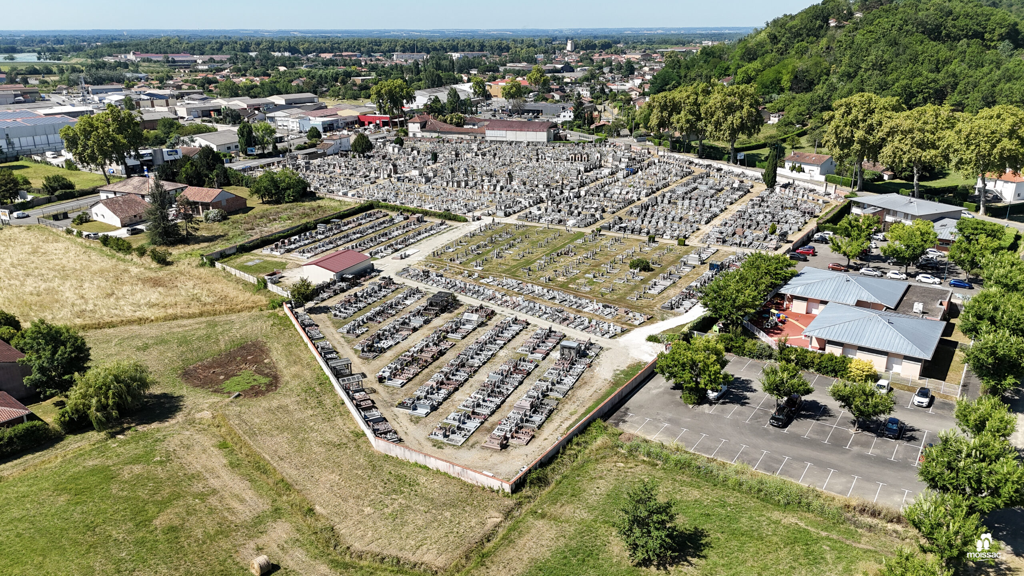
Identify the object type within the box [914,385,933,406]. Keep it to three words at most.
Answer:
car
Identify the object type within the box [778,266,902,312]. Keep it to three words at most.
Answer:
building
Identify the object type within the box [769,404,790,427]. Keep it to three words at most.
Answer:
car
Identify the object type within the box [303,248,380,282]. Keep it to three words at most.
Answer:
shed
